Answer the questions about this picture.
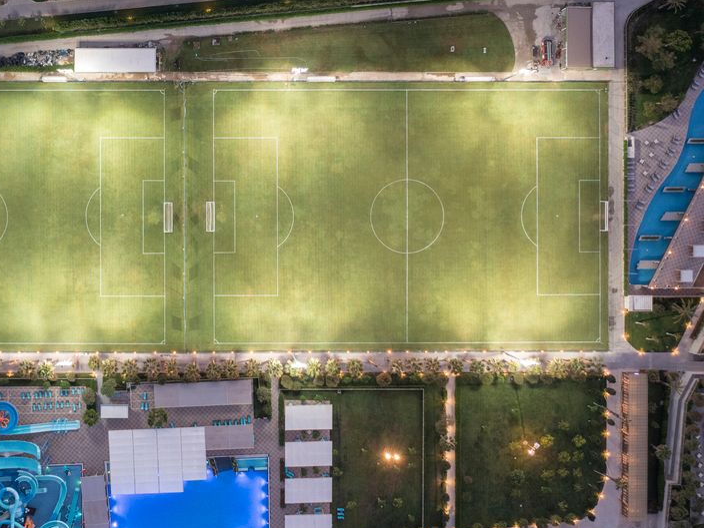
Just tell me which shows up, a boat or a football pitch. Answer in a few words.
football pitch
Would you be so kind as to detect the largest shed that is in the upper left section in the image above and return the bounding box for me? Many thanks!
[74,48,156,74]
